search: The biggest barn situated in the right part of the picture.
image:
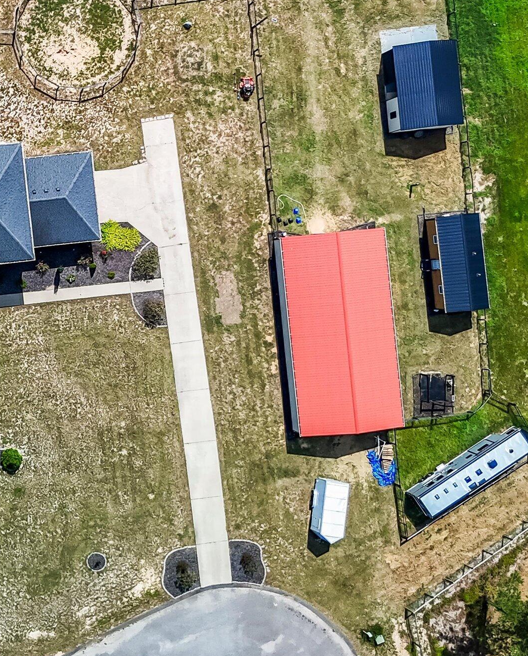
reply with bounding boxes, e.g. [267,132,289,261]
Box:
[275,227,406,437]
